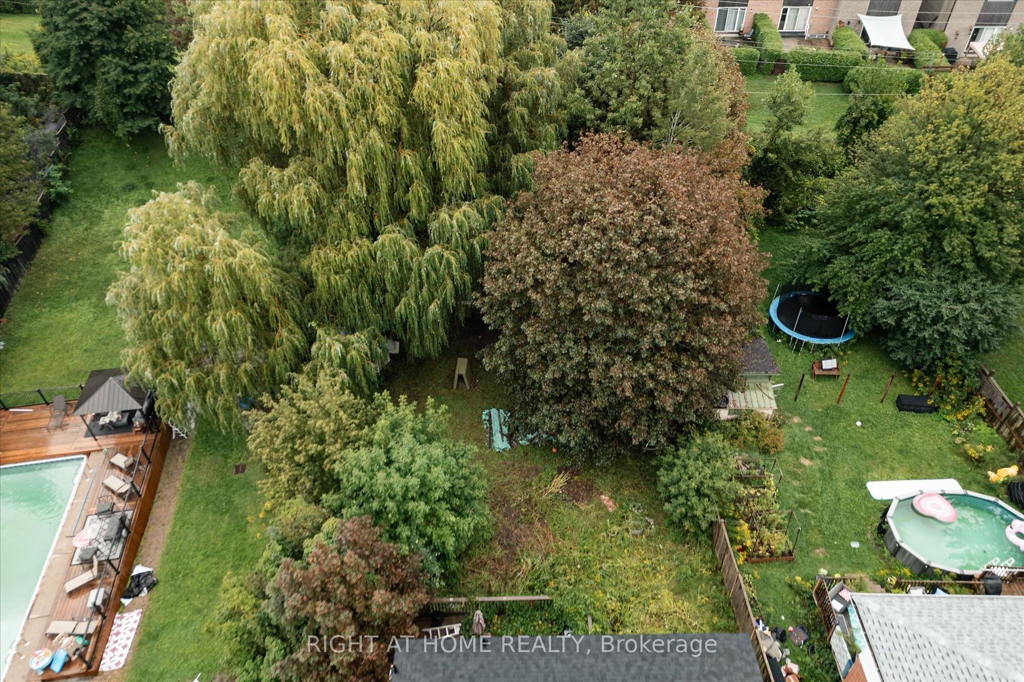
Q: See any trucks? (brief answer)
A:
No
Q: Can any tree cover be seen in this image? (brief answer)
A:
Yes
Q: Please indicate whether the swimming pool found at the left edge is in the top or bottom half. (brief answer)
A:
bottom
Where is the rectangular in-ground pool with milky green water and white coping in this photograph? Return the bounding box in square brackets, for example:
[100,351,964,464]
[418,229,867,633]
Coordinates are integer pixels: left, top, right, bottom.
[0,453,89,682]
